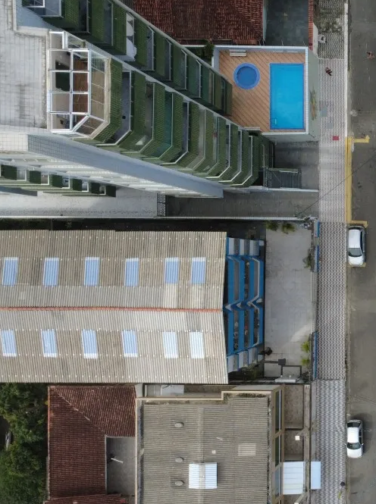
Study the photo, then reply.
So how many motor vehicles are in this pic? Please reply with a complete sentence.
The photo contains 2 motor vehicles.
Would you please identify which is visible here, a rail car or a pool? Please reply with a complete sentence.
This aerial view contains a pool.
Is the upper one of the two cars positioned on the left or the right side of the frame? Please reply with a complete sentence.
It is on the right.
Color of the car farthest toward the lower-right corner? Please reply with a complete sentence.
The color of the car farthest toward the lower-right corner is white.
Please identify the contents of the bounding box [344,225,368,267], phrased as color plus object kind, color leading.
white car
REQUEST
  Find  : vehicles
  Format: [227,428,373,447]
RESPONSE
[344,225,368,267]
[344,419,366,459]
